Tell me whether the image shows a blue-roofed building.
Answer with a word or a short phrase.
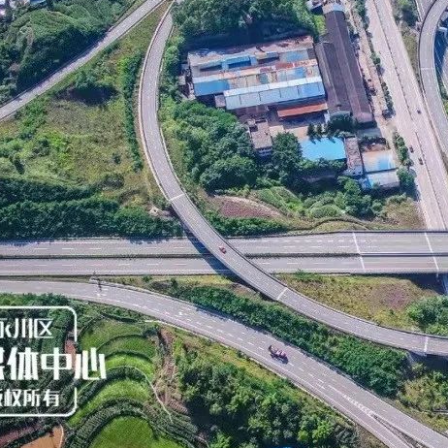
Yes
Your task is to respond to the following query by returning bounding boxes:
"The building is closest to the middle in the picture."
[248,125,273,161]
